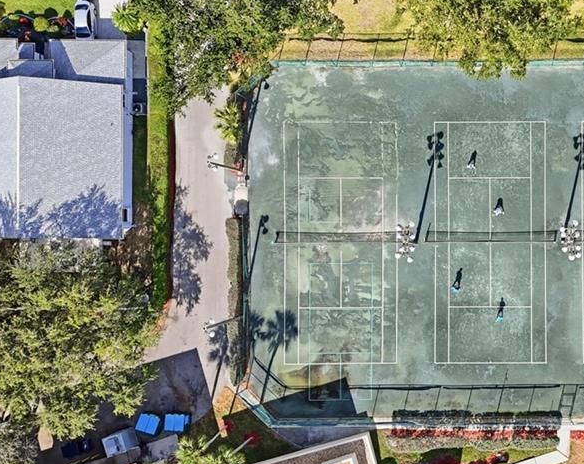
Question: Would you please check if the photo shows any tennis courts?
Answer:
Yes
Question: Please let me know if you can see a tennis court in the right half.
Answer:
Yes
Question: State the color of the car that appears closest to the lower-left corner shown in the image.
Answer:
black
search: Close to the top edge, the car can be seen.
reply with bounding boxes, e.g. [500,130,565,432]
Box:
[74,0,100,39]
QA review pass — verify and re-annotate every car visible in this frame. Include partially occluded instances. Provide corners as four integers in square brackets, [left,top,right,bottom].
[74,0,100,39]
[52,434,100,463]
